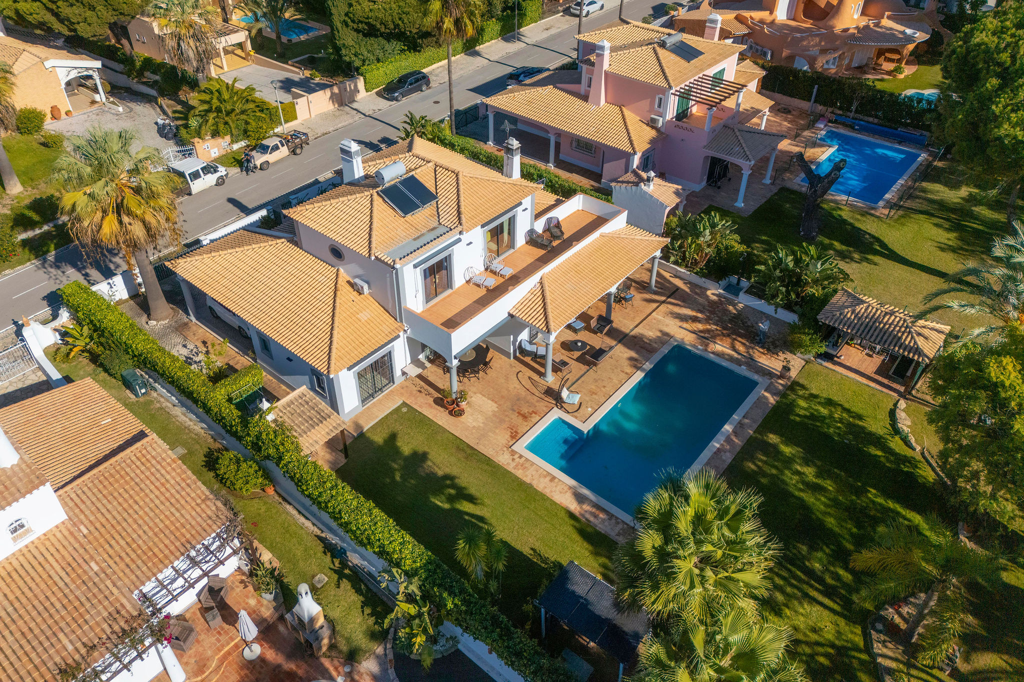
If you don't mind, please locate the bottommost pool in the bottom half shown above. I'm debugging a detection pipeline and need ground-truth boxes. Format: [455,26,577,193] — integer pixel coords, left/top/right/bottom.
[510,336,765,524]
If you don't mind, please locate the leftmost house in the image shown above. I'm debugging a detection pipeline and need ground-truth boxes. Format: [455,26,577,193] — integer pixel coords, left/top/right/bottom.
[0,39,105,124]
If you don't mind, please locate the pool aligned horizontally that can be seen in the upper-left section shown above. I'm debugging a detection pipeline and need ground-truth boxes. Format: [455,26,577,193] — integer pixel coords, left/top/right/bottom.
[229,11,326,40]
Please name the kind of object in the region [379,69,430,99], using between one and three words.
car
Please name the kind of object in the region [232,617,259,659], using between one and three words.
umbrella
